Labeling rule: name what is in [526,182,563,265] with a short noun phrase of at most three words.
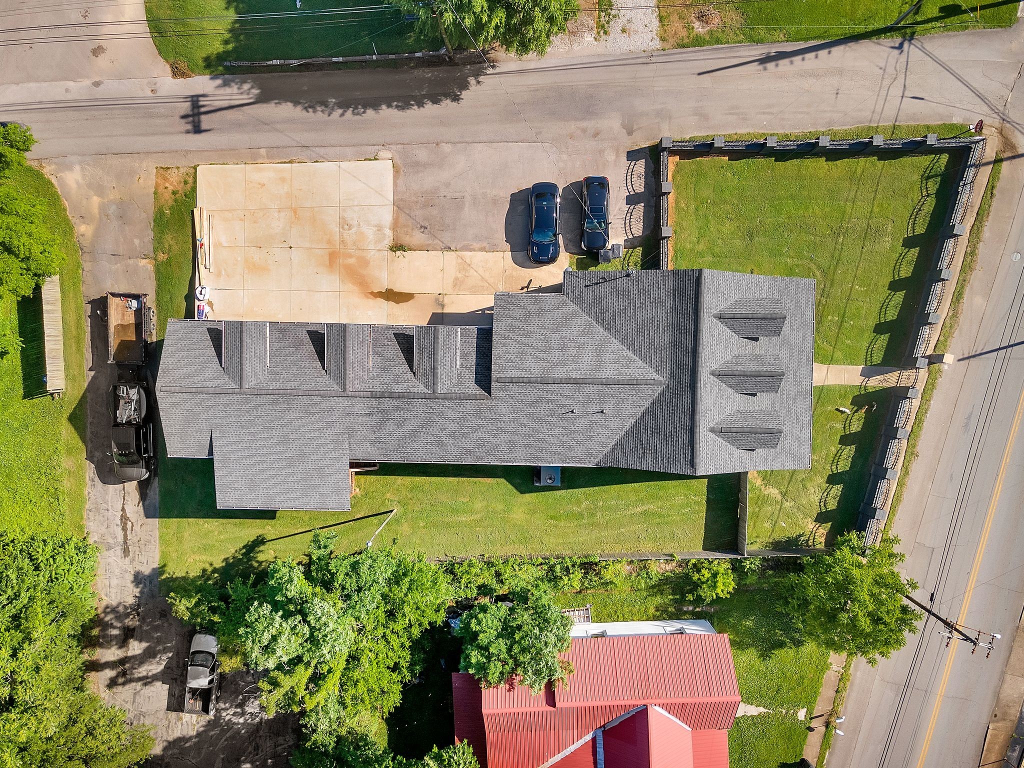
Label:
car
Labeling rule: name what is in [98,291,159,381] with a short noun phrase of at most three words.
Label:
trailer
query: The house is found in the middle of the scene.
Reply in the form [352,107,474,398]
[156,268,818,513]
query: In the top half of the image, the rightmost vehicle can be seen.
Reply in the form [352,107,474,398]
[578,176,613,253]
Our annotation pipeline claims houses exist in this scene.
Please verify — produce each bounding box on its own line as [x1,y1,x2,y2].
[156,268,818,513]
[451,620,742,768]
